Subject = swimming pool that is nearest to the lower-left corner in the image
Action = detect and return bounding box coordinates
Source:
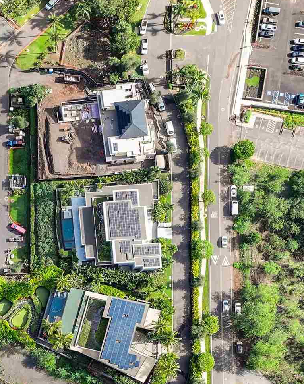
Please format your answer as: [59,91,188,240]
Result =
[49,292,68,322]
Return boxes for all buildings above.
[38,289,161,384]
[72,180,162,270]
[98,81,156,163]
